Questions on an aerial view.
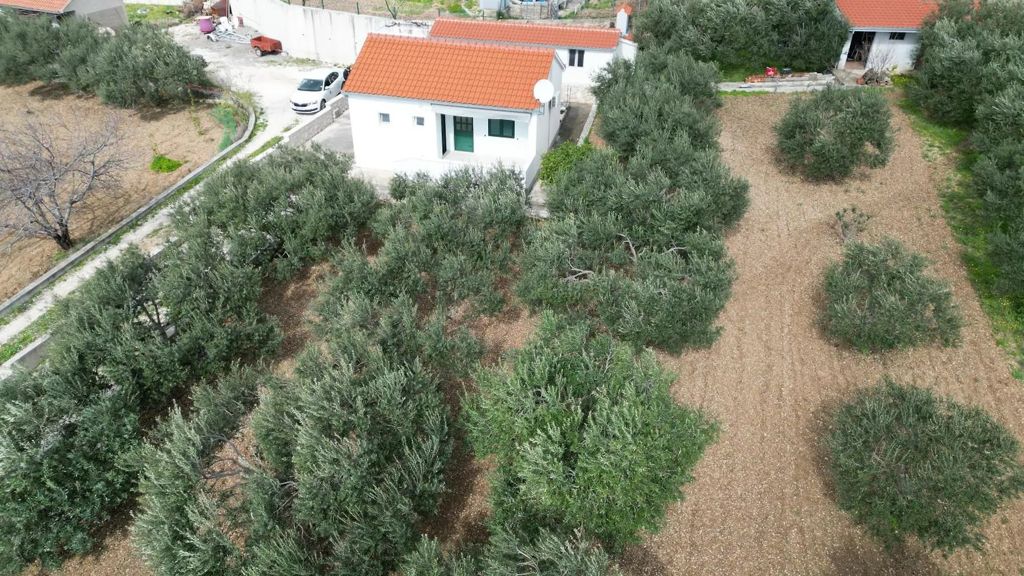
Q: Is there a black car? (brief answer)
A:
No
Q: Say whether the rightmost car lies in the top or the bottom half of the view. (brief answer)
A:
top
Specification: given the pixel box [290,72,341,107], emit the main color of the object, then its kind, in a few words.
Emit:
white car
